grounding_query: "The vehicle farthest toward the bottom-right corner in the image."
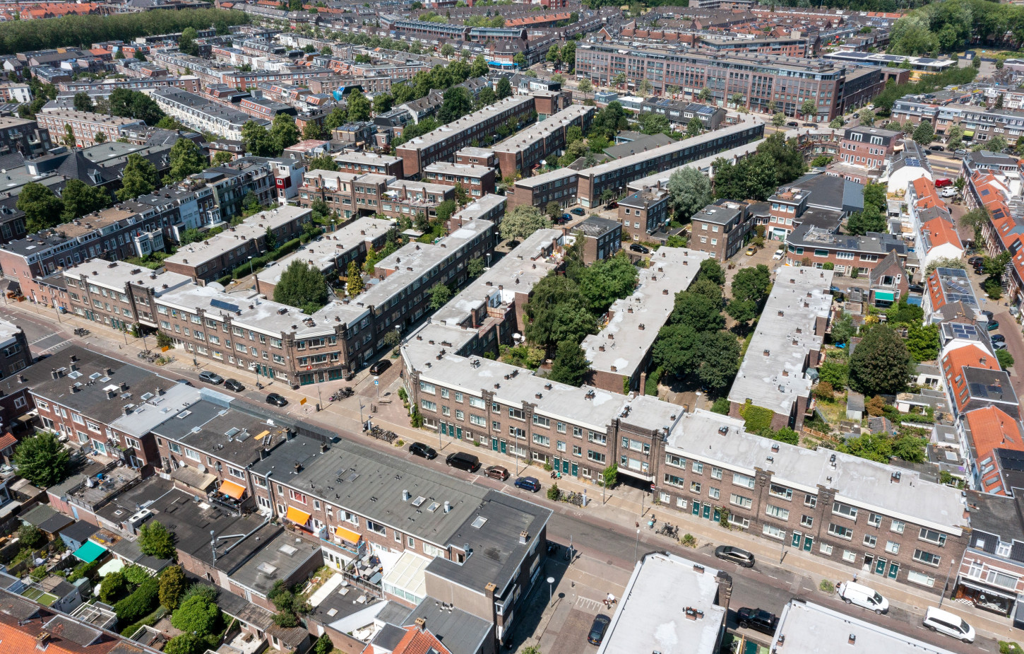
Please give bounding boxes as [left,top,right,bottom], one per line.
[921,605,974,642]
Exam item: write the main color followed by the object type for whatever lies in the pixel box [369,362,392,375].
black vehicle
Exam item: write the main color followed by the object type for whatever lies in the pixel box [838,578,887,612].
white van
